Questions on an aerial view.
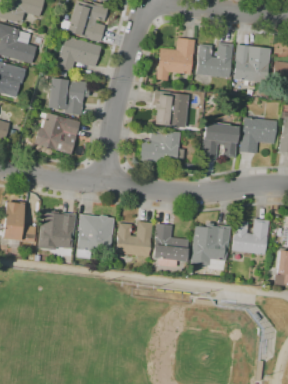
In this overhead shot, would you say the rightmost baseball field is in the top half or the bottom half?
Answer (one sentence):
It is in the bottom half that the rightmost baseball field appears.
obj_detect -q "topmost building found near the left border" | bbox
[0,0,46,26]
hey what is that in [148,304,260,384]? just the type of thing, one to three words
baseball field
